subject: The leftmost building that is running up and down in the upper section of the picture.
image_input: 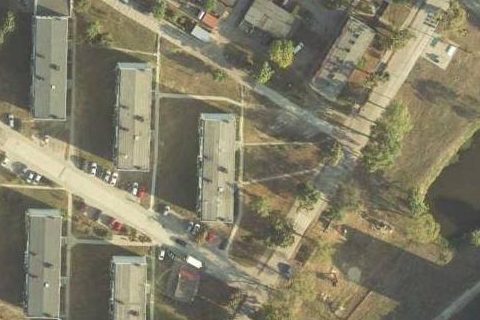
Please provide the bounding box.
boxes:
[32,15,72,121]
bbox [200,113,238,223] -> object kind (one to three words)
building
